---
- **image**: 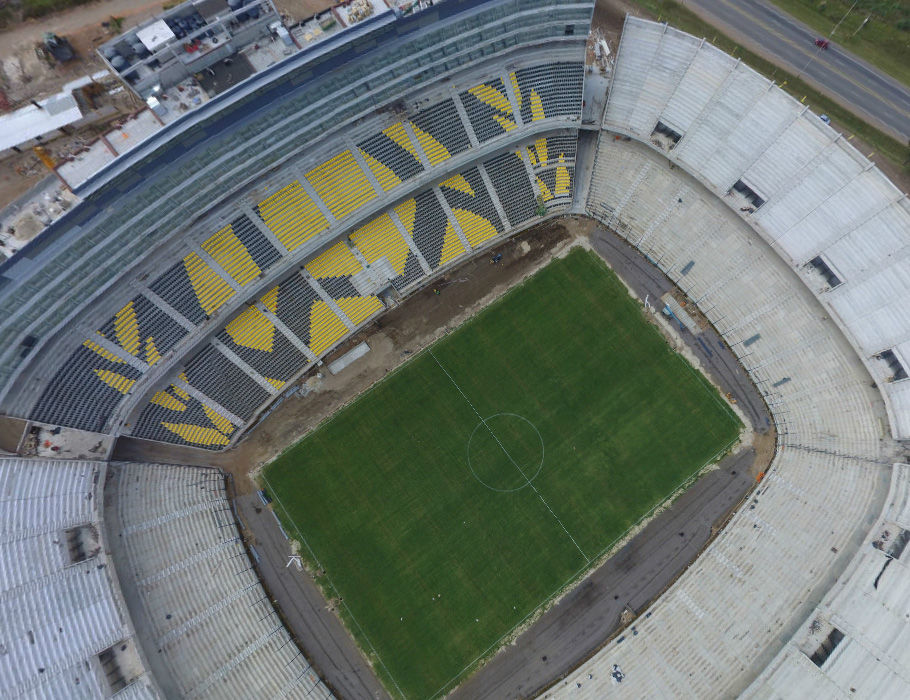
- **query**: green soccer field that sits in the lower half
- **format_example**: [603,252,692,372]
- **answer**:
[255,242,746,700]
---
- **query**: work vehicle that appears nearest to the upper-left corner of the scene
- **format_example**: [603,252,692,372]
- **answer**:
[43,30,74,62]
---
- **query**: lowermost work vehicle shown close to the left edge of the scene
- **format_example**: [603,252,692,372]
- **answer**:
[36,149,52,170]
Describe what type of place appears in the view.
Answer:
sports ground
